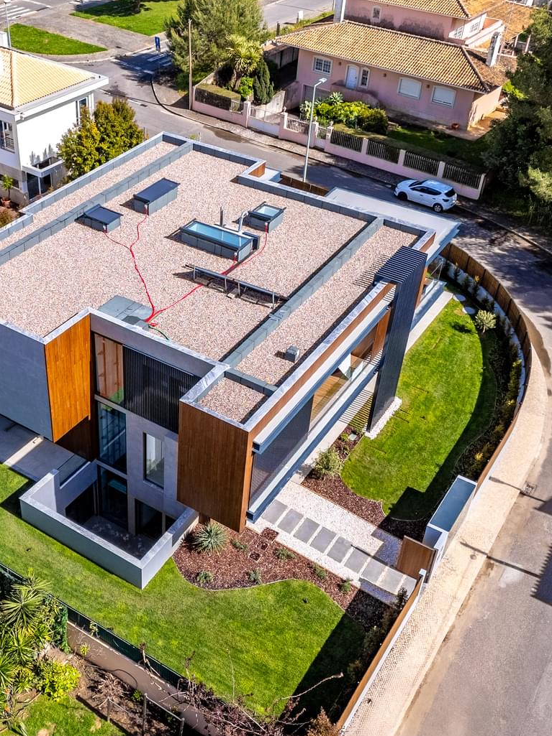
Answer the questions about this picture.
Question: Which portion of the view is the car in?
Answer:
top right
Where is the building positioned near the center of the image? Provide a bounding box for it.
[0,131,462,535]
